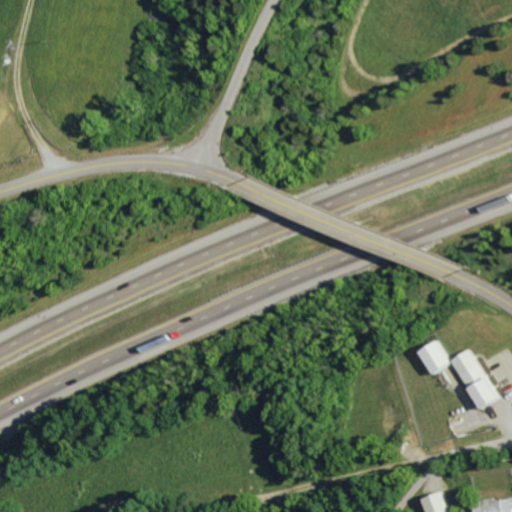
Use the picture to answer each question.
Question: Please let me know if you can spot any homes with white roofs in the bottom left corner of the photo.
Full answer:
No, there's no home with a white roof to be seen in the bottom left corner of the photo.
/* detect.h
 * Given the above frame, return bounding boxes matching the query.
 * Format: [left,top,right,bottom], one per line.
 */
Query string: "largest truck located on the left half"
[136,330,180,354]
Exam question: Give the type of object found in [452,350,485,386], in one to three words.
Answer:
house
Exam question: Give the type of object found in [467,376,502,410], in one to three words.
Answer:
house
